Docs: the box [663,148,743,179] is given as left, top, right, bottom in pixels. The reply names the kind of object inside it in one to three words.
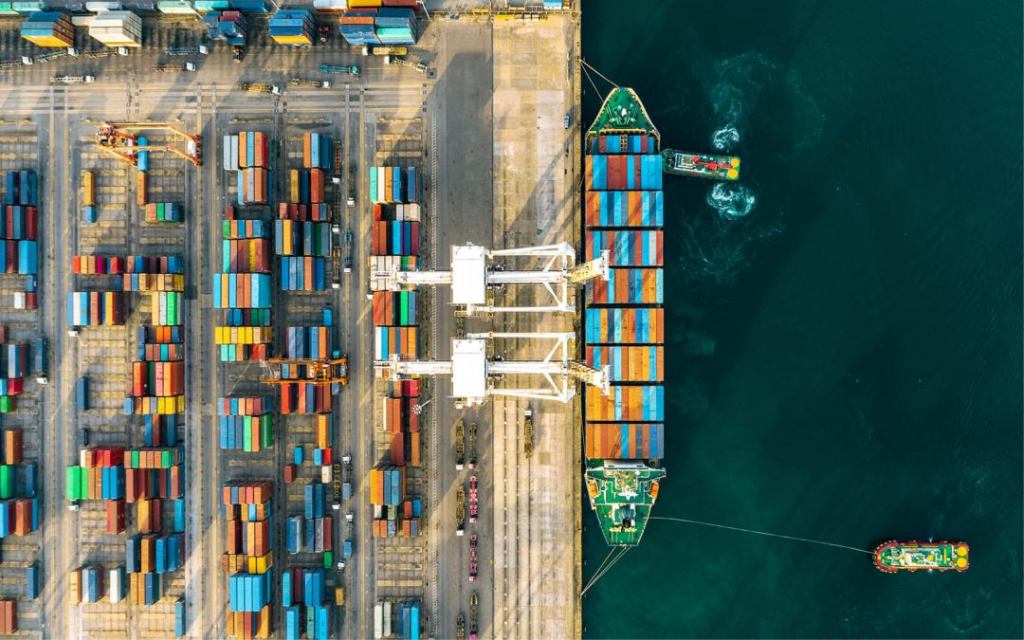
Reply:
boat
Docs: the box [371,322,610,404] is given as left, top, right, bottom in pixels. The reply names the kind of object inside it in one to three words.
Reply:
container crane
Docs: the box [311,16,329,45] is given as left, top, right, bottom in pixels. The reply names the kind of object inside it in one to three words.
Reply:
work vehicle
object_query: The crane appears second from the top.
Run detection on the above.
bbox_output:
[371,243,610,319]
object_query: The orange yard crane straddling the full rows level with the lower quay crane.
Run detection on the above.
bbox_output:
[258,352,349,387]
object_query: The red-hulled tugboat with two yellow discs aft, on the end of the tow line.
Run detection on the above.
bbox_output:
[871,542,970,574]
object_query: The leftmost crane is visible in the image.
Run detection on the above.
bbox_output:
[95,123,200,164]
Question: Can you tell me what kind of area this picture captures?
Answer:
port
